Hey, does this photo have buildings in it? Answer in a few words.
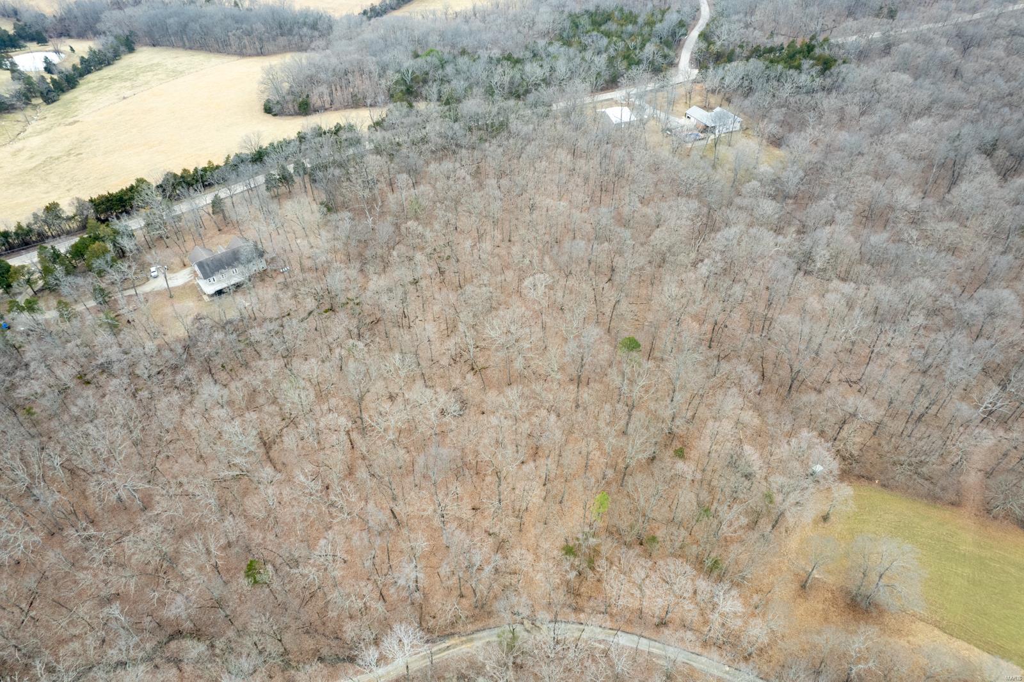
Yes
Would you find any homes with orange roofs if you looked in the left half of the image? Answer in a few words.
No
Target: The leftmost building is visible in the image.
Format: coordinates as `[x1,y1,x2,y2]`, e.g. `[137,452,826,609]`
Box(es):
[185,234,266,302]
